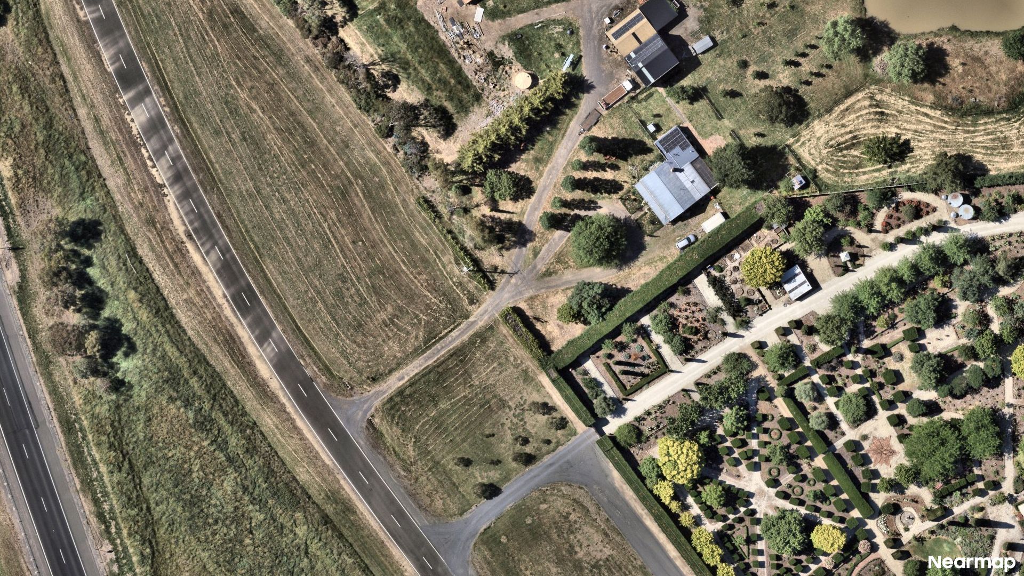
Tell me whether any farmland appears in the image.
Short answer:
Yes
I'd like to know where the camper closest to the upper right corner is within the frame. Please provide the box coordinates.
[694,35,712,53]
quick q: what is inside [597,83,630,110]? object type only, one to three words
truck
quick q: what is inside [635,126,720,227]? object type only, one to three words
house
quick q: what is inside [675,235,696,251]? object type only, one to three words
car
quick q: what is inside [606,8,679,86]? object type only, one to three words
shed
